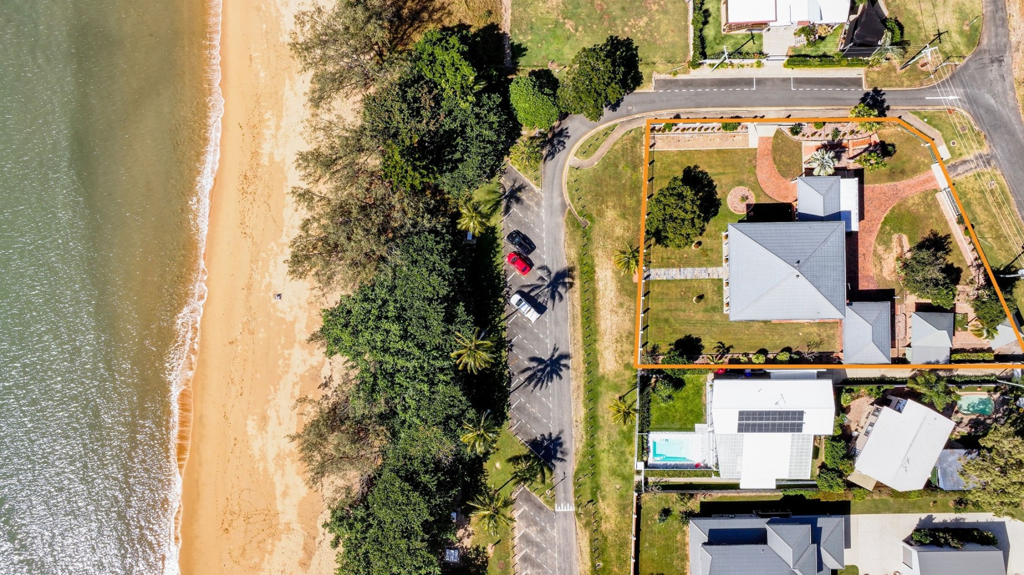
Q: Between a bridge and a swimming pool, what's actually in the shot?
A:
swimming pool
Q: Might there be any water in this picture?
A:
Yes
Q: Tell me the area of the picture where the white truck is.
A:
center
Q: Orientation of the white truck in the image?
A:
at an angle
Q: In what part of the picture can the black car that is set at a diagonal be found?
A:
center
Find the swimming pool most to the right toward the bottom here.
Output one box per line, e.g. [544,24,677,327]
[950,387,1002,423]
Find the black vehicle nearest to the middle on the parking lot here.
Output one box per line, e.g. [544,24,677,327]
[507,228,536,257]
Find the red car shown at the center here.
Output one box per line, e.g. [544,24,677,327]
[505,251,532,276]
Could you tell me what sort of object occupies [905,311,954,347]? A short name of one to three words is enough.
shed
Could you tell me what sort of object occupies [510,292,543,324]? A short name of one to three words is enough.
truck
